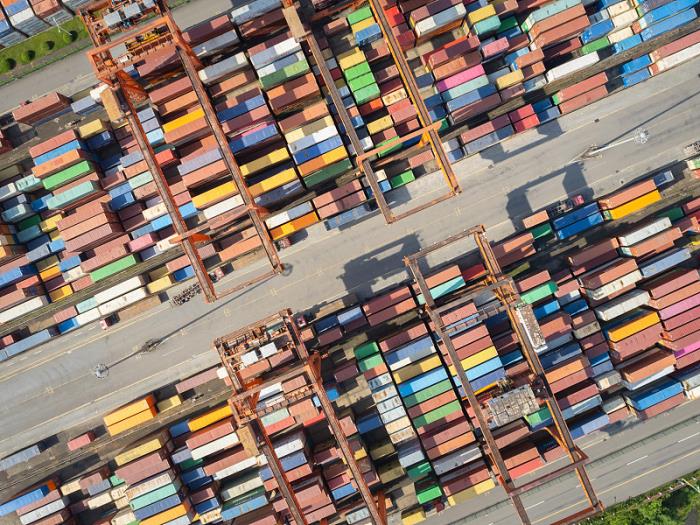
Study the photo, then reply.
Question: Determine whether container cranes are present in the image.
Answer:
Yes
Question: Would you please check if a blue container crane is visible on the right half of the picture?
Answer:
No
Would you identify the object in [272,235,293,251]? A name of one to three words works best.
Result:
work vehicle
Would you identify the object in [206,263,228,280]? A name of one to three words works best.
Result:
work vehicle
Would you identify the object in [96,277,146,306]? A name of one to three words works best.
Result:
shipping container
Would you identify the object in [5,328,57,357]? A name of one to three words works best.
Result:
shipping container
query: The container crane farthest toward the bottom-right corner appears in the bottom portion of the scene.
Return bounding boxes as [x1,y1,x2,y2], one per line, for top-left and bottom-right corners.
[403,227,604,525]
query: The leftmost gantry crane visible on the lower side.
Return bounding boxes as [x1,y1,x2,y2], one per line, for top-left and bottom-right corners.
[210,308,399,525]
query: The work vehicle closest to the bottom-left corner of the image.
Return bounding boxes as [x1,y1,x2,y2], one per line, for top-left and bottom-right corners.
[96,315,120,332]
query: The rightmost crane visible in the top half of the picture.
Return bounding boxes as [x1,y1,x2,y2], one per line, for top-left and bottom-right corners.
[278,0,462,226]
